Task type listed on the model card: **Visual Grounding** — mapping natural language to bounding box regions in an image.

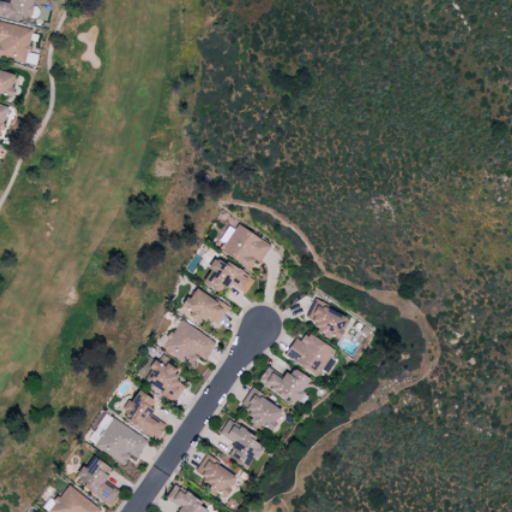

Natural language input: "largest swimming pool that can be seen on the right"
[338,337,358,356]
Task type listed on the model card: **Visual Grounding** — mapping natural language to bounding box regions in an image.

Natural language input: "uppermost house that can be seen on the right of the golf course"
[222,224,270,268]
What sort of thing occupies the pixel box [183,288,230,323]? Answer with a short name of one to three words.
house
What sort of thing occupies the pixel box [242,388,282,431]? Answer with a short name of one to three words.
house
